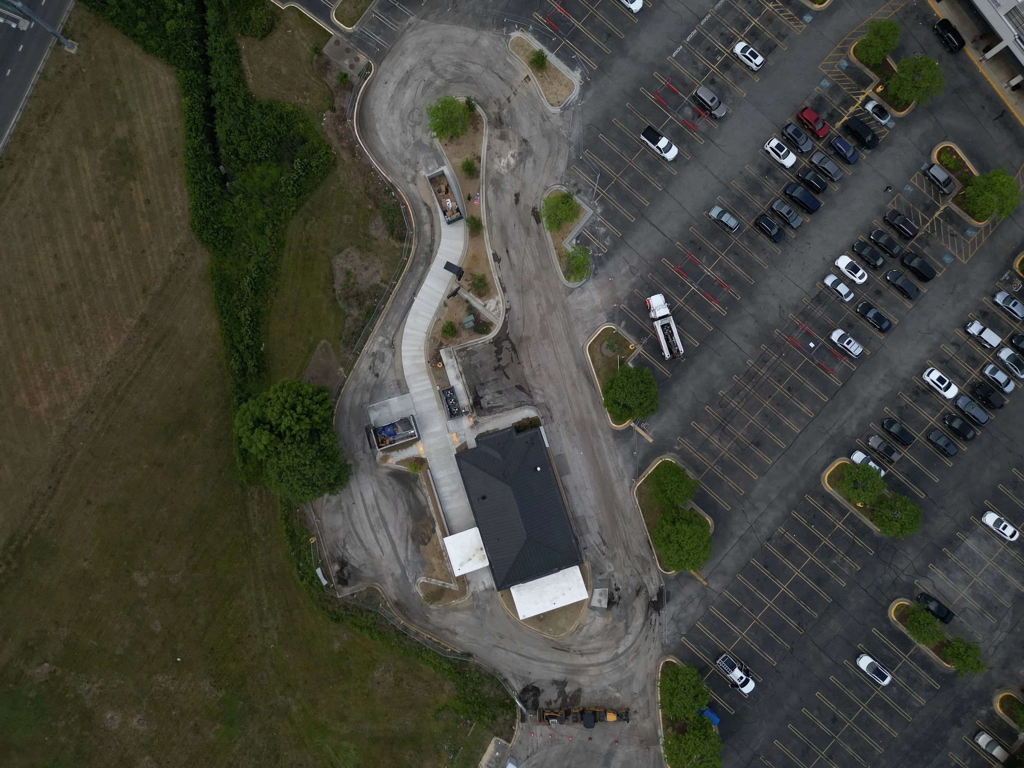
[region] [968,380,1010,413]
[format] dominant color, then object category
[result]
black truck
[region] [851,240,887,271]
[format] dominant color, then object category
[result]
black car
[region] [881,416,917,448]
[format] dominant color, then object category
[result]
black car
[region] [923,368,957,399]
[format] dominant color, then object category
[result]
white car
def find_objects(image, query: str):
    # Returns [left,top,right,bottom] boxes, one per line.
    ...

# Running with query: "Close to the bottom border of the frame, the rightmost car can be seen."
[972,730,1011,764]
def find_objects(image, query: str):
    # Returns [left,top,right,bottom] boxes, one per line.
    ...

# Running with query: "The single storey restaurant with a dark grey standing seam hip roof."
[454,426,583,592]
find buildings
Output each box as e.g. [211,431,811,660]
[454,426,583,592]
[973,0,1024,68]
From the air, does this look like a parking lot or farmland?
parking lot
